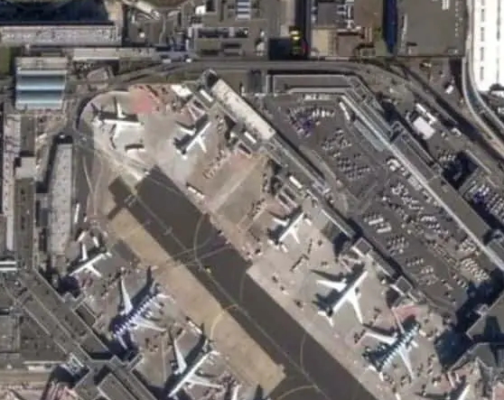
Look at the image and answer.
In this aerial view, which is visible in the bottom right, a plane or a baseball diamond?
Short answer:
plane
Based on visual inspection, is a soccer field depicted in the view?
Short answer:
No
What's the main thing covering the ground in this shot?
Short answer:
paved ground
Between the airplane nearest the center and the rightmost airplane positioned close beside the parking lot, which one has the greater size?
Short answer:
the rightmost airplane positioned close beside the parking lot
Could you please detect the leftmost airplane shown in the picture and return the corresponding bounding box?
[68,248,110,278]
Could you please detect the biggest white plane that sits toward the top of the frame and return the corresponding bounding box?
[93,101,144,144]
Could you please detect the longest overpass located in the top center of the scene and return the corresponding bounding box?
[66,57,374,101]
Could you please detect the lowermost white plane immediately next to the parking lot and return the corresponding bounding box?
[366,325,418,379]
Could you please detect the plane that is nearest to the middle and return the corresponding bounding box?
[271,213,304,247]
